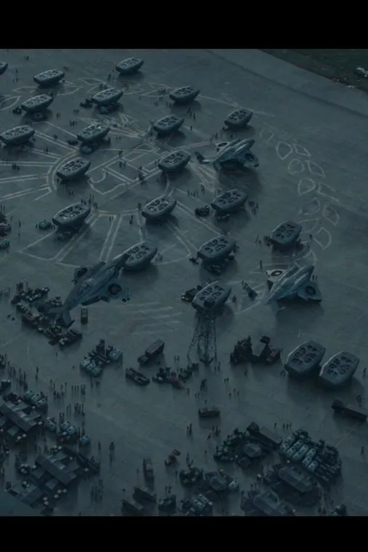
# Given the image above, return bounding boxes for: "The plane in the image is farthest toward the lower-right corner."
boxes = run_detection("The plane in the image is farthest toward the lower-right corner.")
[250,269,314,313]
